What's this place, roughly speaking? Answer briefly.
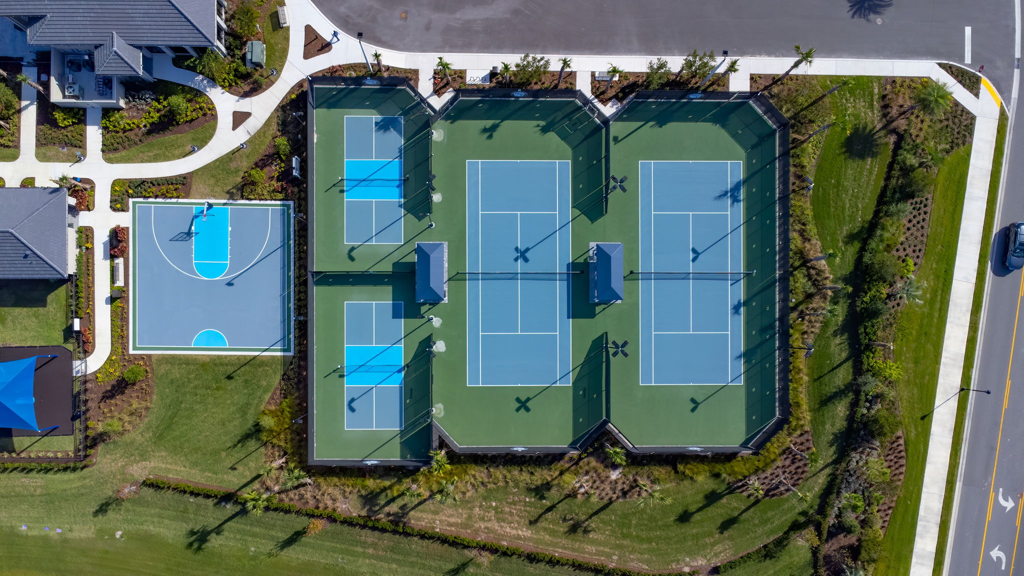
sports ground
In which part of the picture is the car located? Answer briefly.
right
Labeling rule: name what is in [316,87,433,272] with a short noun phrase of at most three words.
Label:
sports court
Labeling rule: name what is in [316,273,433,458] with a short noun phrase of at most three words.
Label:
sports court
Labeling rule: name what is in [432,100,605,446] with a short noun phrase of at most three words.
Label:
tennis court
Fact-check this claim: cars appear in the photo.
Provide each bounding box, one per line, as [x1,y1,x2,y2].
[1003,224,1024,270]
